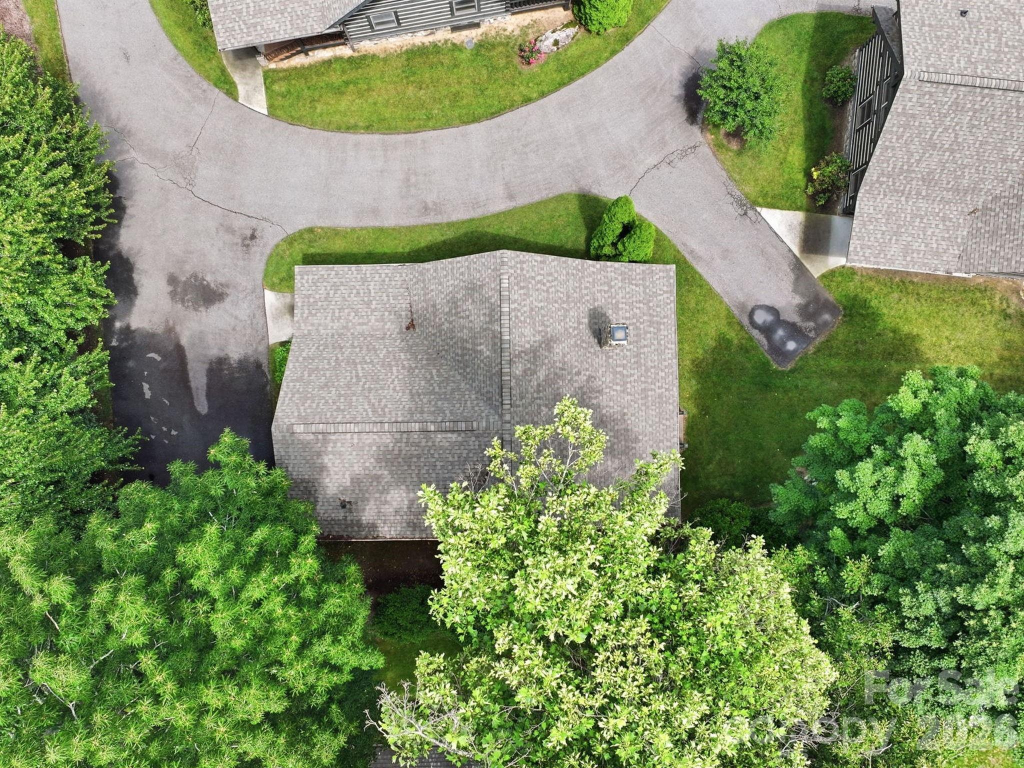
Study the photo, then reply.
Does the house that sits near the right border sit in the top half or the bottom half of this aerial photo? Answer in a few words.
top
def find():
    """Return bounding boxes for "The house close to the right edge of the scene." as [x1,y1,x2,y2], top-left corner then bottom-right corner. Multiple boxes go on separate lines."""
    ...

[836,0,1024,285]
